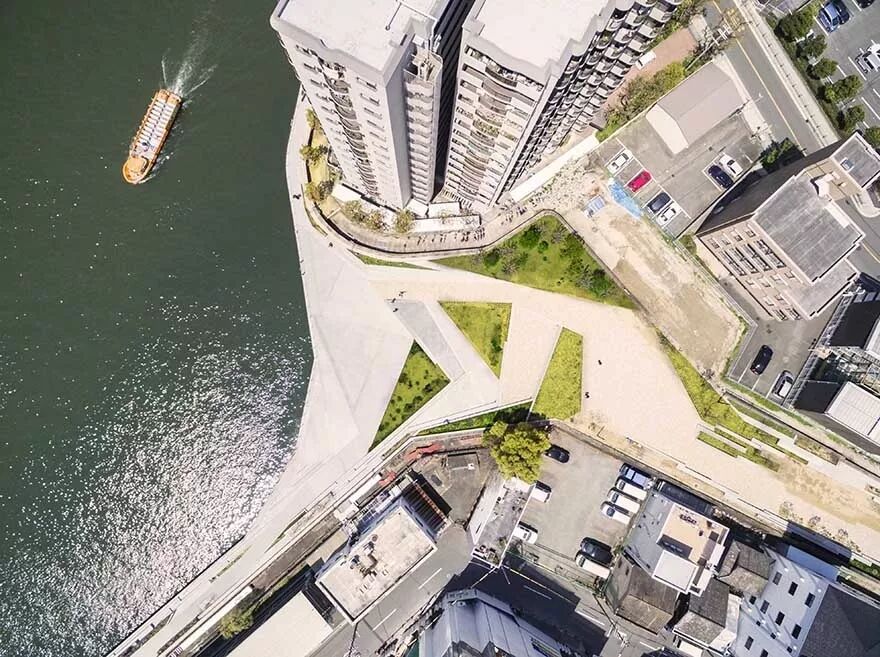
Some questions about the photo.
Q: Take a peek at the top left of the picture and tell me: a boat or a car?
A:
boat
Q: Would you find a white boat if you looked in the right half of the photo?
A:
No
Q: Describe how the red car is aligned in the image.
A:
on a diagonal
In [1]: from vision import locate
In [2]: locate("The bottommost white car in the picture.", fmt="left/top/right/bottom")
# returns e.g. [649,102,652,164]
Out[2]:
[577,554,607,576]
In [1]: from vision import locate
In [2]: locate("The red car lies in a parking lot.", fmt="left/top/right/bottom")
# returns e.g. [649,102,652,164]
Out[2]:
[626,170,652,193]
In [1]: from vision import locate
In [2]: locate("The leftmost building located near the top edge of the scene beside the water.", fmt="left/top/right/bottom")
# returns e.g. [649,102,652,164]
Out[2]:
[266,0,476,208]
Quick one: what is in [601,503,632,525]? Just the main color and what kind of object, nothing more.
white car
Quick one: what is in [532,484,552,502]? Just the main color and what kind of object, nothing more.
white car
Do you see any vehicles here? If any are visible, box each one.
[816,3,840,31]
[545,445,571,464]
[601,503,632,525]
[655,203,681,226]
[854,50,879,78]
[577,554,607,576]
[618,465,651,488]
[614,478,647,499]
[634,51,657,70]
[749,345,773,374]
[607,150,633,175]
[772,371,795,398]
[607,490,640,512]
[532,484,552,502]
[645,192,671,214]
[581,539,612,562]
[626,170,652,193]
[514,525,536,544]
[718,154,743,179]
[706,165,732,191]
[829,0,853,24]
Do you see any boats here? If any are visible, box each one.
[126,90,183,184]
